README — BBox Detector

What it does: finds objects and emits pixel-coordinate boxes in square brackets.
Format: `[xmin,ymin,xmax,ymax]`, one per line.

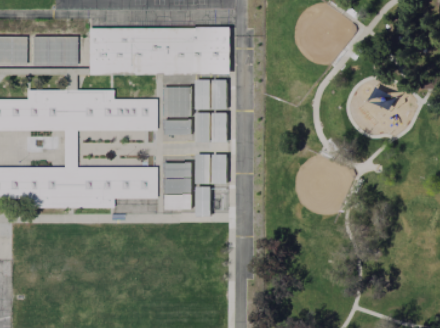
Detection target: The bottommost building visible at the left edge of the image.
[0,90,158,209]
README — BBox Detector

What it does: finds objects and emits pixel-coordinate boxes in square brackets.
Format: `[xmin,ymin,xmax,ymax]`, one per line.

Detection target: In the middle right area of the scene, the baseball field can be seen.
[295,154,358,216]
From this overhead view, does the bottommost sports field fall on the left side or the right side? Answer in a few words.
left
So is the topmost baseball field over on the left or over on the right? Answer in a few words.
right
